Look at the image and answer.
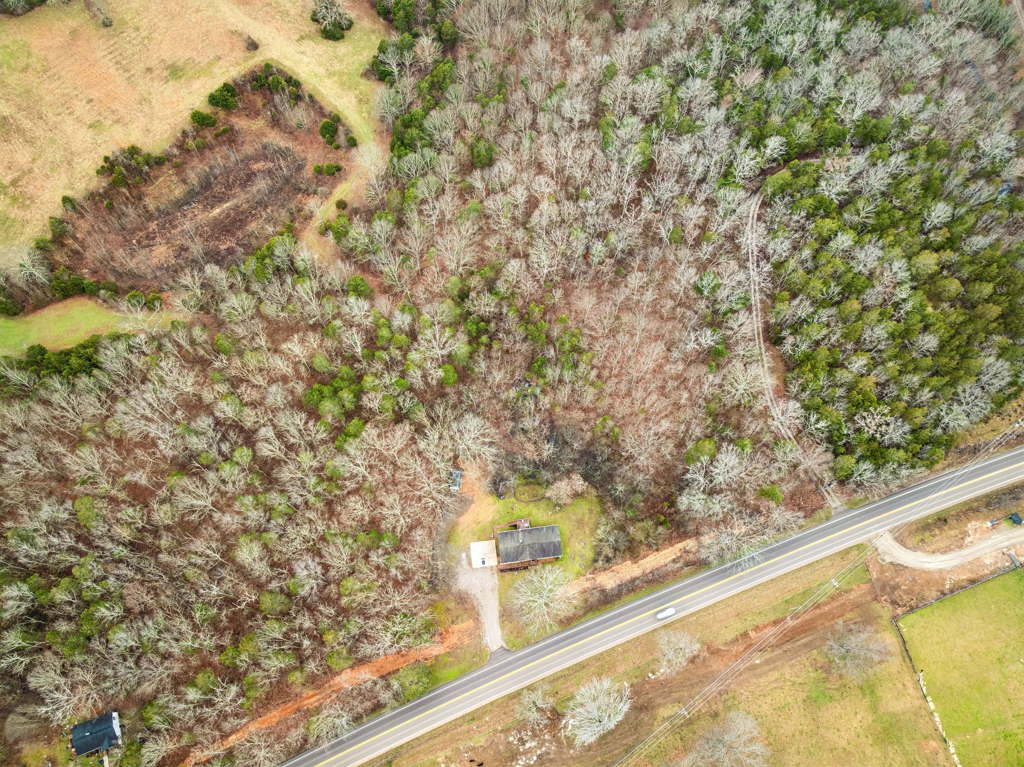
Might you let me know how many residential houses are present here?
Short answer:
two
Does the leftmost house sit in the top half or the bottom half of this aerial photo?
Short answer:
bottom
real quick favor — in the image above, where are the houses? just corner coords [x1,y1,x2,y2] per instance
[497,518,563,566]
[70,713,126,760]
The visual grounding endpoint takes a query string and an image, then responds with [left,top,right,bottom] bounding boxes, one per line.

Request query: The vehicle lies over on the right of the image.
[655,606,676,620]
